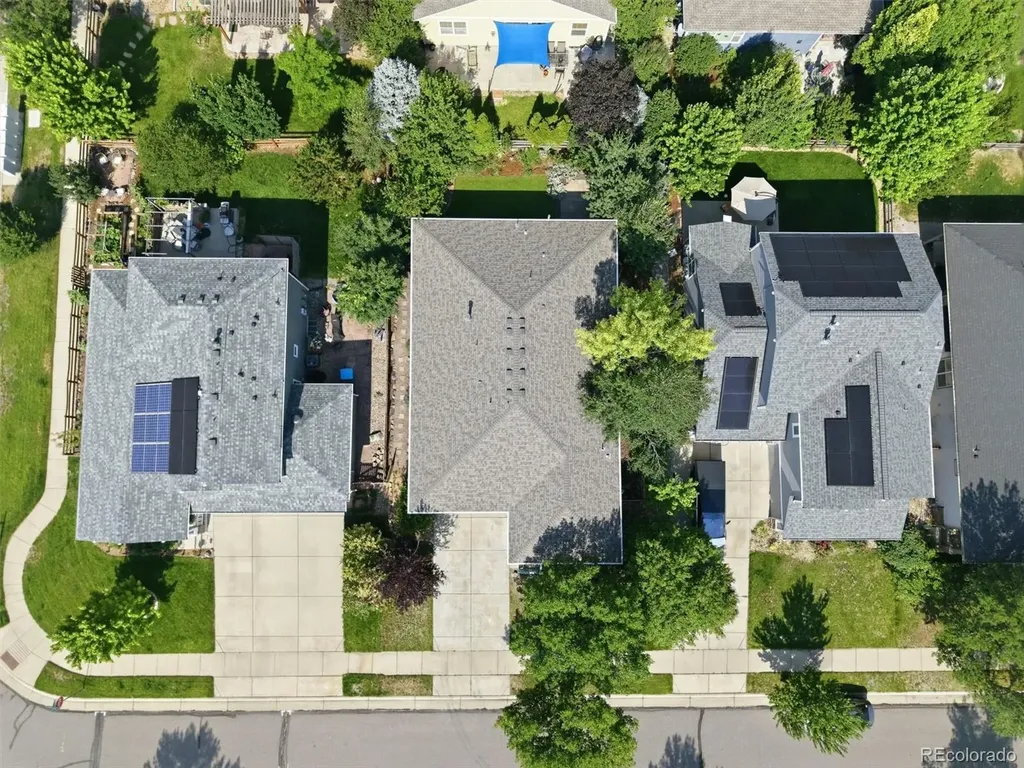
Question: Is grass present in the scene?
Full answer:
Yes, the picture does contain grass.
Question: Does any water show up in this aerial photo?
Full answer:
No, there is no water in the image.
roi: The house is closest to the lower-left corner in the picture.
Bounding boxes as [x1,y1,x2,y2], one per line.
[74,256,358,544]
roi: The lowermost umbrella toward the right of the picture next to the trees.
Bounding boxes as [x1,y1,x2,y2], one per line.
[731,177,779,221]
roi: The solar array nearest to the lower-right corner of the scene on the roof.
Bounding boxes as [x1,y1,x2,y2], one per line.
[825,386,873,485]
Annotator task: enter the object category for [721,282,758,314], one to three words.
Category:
solar array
